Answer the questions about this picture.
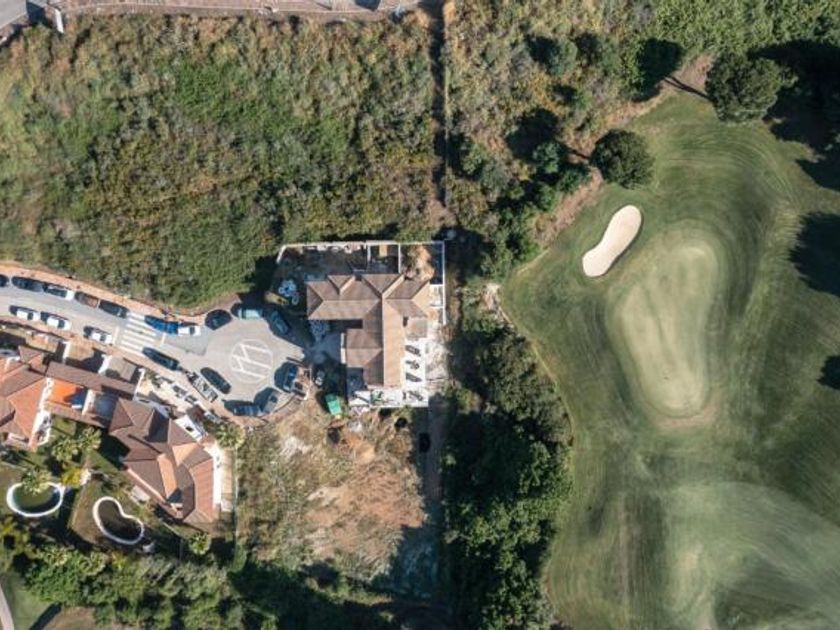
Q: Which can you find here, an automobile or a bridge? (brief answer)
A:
automobile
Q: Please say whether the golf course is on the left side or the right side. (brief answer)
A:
right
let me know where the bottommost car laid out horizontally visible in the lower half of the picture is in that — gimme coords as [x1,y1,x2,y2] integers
[232,402,260,416]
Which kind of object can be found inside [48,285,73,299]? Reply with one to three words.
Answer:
vehicle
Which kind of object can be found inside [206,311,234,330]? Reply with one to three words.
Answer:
car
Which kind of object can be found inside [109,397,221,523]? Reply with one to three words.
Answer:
house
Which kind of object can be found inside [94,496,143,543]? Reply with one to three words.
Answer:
swimming pool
